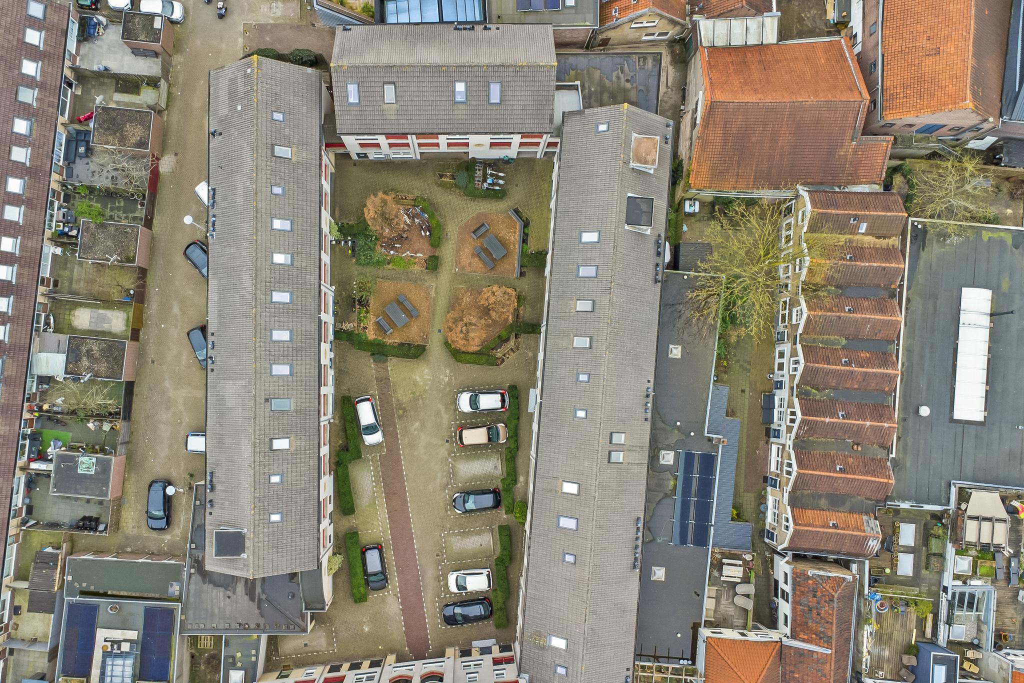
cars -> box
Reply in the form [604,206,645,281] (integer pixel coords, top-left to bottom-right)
[457,389,509,415]
[442,597,494,626]
[447,569,494,594]
[135,0,187,26]
[77,0,103,13]
[451,488,502,514]
[186,238,205,279]
[109,0,133,14]
[145,479,173,530]
[362,544,388,589]
[183,432,204,452]
[457,423,508,447]
[195,179,206,205]
[356,395,382,447]
[187,324,205,374]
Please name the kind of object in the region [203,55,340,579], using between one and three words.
building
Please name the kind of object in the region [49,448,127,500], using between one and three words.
shed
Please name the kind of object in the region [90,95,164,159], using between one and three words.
shed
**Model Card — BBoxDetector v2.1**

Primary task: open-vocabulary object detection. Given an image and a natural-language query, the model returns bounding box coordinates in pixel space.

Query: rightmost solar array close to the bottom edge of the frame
[138,605,175,681]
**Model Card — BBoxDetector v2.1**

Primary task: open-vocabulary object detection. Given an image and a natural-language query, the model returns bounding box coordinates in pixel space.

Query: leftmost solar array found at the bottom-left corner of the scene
[60,602,98,676]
